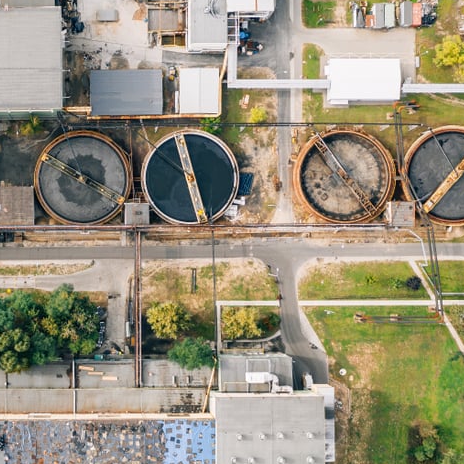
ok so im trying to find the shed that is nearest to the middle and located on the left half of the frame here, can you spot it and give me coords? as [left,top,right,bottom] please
[123,203,148,223]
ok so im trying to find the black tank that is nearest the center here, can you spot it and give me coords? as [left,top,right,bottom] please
[138,129,239,226]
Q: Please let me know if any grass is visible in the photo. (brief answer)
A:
Yes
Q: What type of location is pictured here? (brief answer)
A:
industrial area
